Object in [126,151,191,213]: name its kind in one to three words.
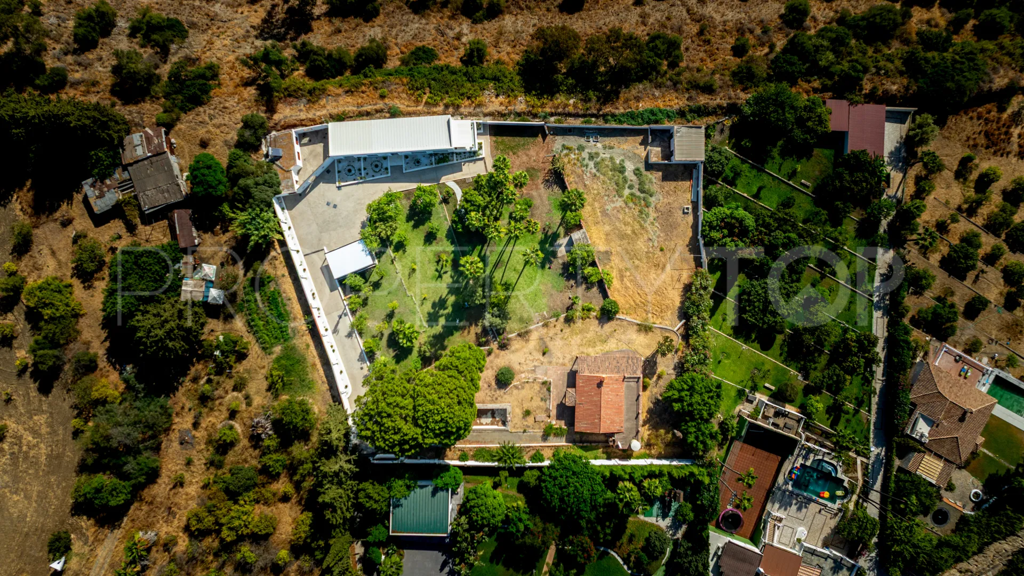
shed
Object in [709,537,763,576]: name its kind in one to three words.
house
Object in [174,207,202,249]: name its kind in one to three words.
shed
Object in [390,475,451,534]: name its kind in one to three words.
building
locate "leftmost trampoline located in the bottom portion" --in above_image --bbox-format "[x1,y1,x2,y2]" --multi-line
[719,509,743,532]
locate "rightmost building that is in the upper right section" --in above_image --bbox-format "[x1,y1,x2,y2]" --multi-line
[823,100,886,158]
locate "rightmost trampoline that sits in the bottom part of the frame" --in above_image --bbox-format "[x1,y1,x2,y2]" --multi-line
[931,506,950,525]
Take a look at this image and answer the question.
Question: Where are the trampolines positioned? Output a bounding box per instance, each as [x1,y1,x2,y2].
[719,509,743,532]
[931,506,950,525]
